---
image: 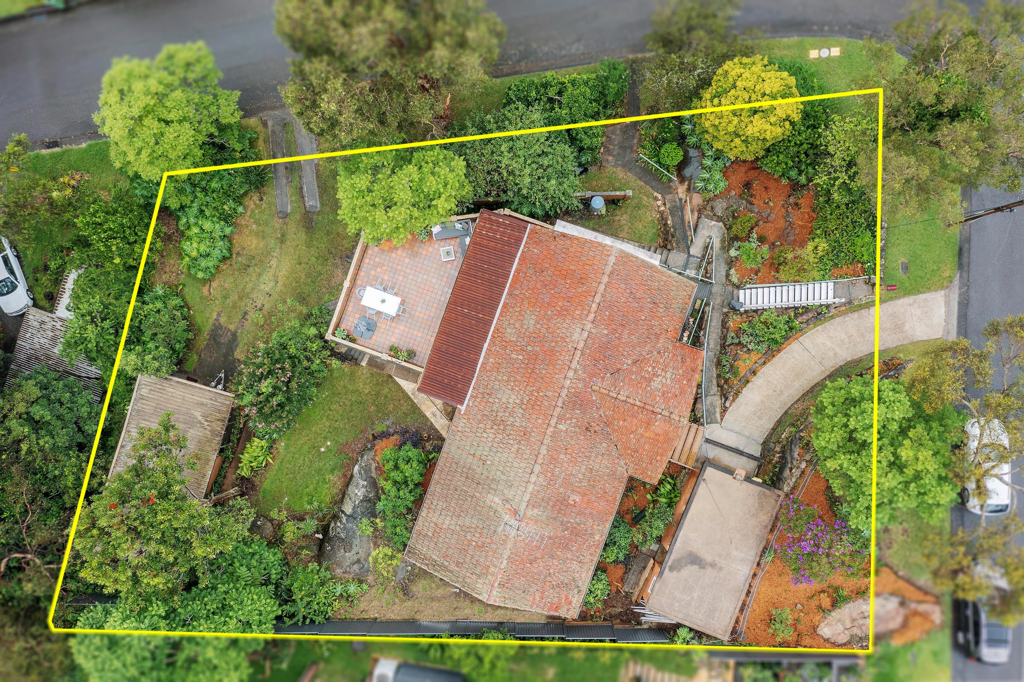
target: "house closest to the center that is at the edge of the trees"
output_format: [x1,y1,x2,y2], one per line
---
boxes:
[402,208,706,621]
